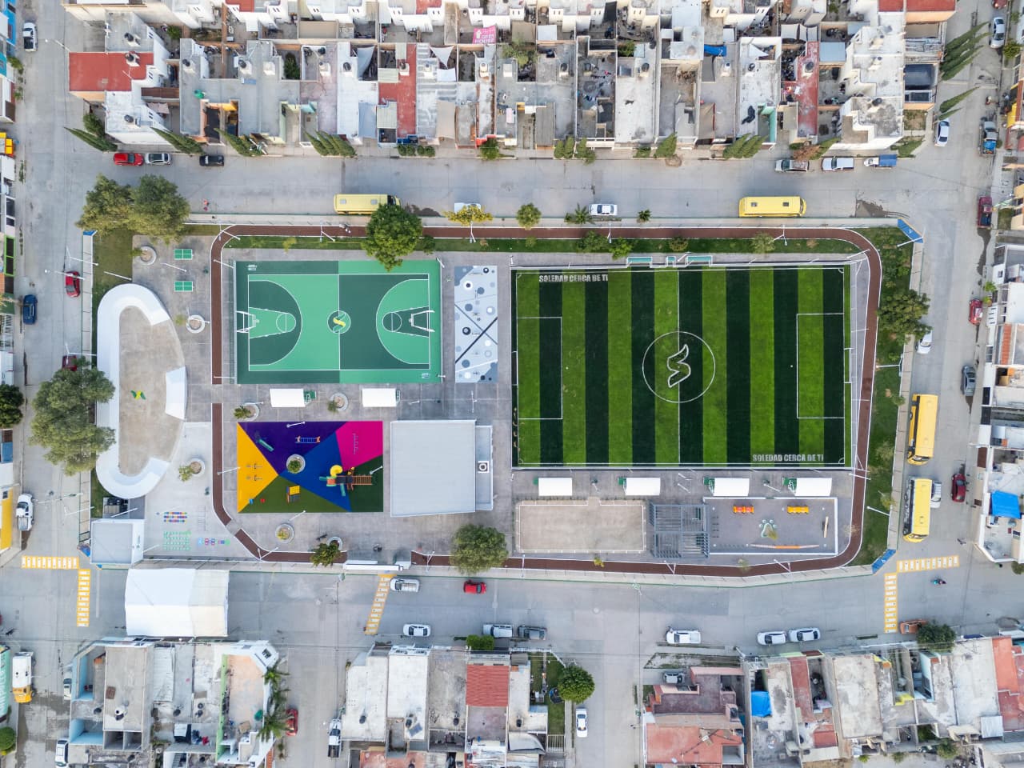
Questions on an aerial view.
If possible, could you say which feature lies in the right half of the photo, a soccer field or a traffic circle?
soccer field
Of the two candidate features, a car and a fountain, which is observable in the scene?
car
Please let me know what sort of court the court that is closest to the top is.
basketball court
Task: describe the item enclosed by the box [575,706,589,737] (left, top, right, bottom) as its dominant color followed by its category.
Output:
white car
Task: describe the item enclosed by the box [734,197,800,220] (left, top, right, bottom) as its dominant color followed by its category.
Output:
yellow bus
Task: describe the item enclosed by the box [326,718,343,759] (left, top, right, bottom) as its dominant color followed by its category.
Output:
white vehicle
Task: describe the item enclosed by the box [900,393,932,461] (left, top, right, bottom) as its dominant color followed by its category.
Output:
yellow bus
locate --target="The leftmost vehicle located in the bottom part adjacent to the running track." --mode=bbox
[390,578,420,592]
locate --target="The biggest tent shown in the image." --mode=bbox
[125,566,234,636]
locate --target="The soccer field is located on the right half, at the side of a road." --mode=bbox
[512,265,851,468]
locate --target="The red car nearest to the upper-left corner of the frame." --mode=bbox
[113,151,145,167]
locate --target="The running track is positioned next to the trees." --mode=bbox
[211,225,883,576]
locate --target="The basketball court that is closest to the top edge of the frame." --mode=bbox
[237,261,440,383]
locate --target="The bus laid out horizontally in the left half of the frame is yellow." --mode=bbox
[336,195,398,218]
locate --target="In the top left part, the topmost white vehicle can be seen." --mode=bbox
[22,22,39,53]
